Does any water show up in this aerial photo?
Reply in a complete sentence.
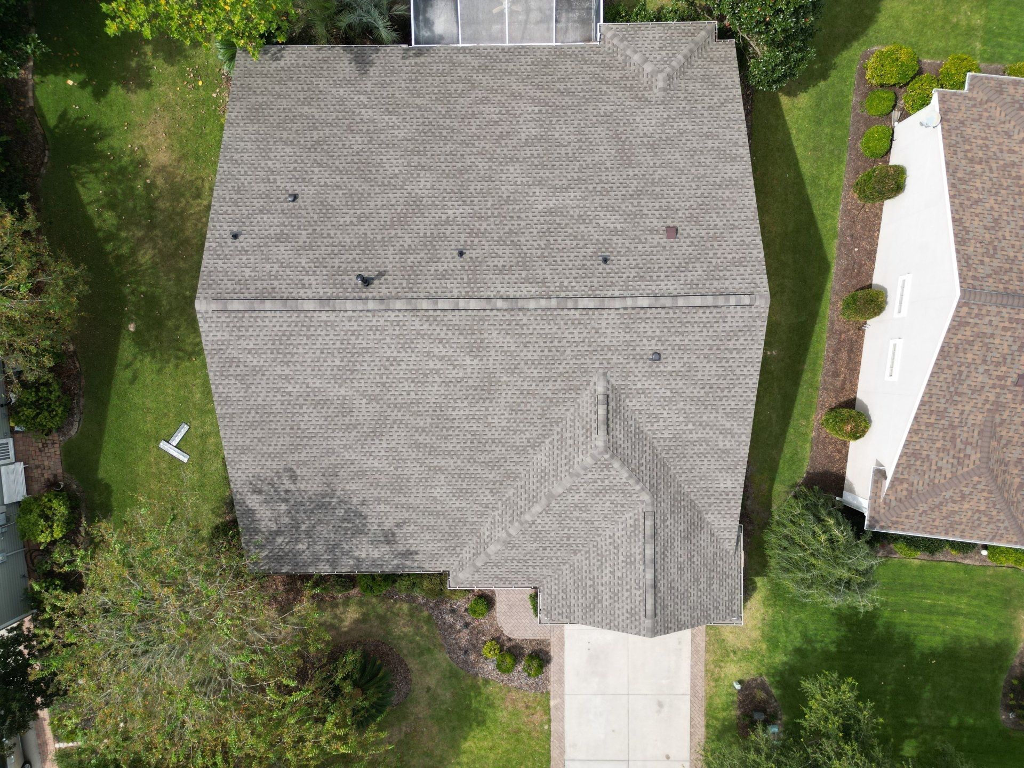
No, the picture contains no water.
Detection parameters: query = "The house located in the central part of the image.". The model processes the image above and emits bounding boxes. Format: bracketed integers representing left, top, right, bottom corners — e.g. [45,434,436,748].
[195,19,770,634]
